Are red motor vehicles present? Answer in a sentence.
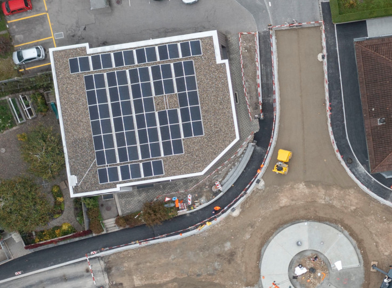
Yes, there's a red motor vehicle here.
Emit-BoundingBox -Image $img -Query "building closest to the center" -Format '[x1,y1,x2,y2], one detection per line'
[50,31,243,200]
